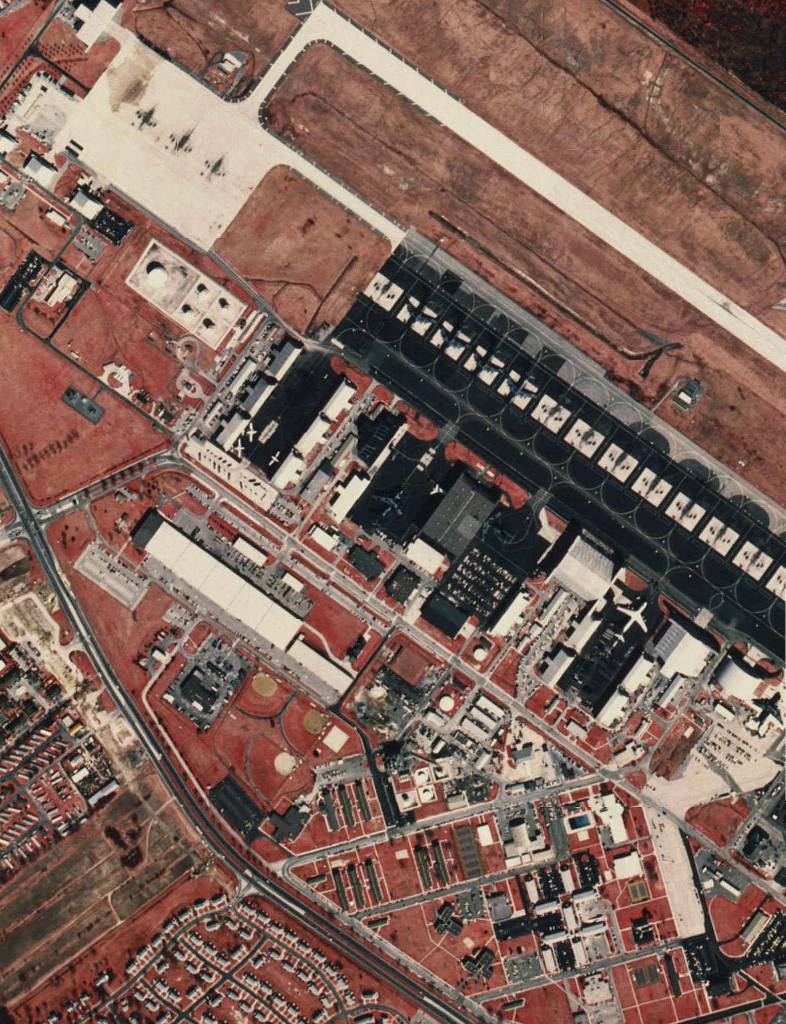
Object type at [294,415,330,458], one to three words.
hangar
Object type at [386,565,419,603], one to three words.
building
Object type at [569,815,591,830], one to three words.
swimming pool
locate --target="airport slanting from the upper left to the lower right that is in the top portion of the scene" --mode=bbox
[2,0,786,739]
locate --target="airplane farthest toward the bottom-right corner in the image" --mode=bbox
[751,690,783,729]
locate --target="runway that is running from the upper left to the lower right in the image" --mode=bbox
[301,2,786,371]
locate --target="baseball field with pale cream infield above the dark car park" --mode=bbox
[246,731,304,804]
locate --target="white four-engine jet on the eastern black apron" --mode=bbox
[616,598,648,638]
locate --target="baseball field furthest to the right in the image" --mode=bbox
[280,695,333,757]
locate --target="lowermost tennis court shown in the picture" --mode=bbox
[632,964,662,988]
